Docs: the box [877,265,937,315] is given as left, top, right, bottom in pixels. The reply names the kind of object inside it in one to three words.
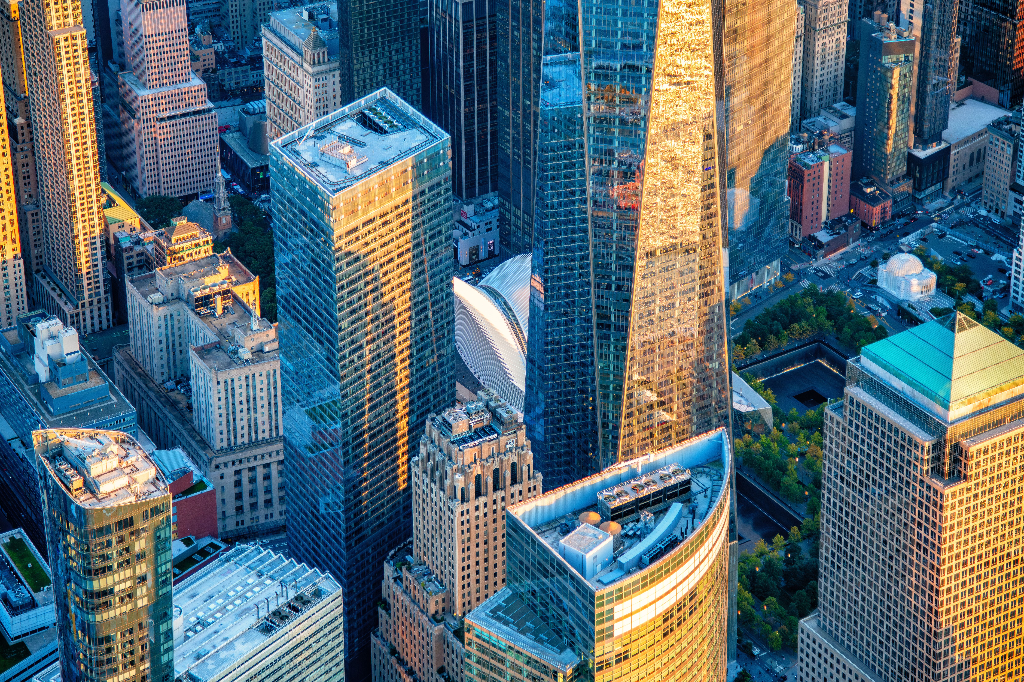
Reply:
building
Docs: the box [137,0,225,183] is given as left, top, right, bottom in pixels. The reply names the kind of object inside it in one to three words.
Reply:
building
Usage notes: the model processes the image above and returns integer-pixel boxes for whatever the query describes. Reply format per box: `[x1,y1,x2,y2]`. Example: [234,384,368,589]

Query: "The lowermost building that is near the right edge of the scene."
[791,318,1024,682]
